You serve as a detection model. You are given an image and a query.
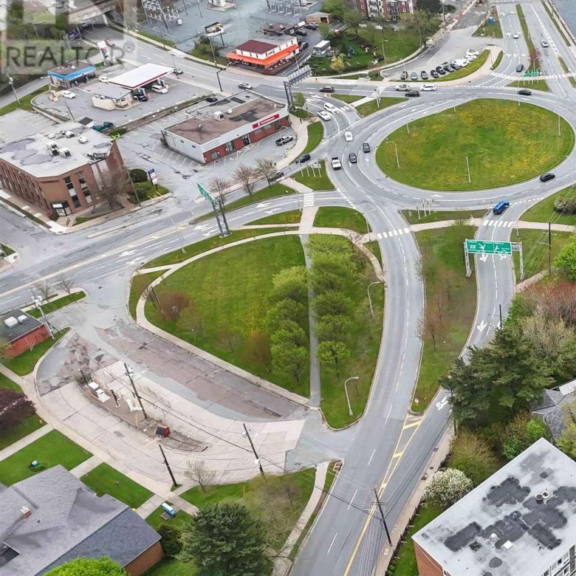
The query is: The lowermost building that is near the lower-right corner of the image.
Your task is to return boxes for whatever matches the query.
[411,435,576,576]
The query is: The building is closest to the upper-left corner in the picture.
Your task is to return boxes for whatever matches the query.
[46,60,98,91]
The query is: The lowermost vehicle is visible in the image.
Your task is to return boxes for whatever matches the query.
[492,201,510,214]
